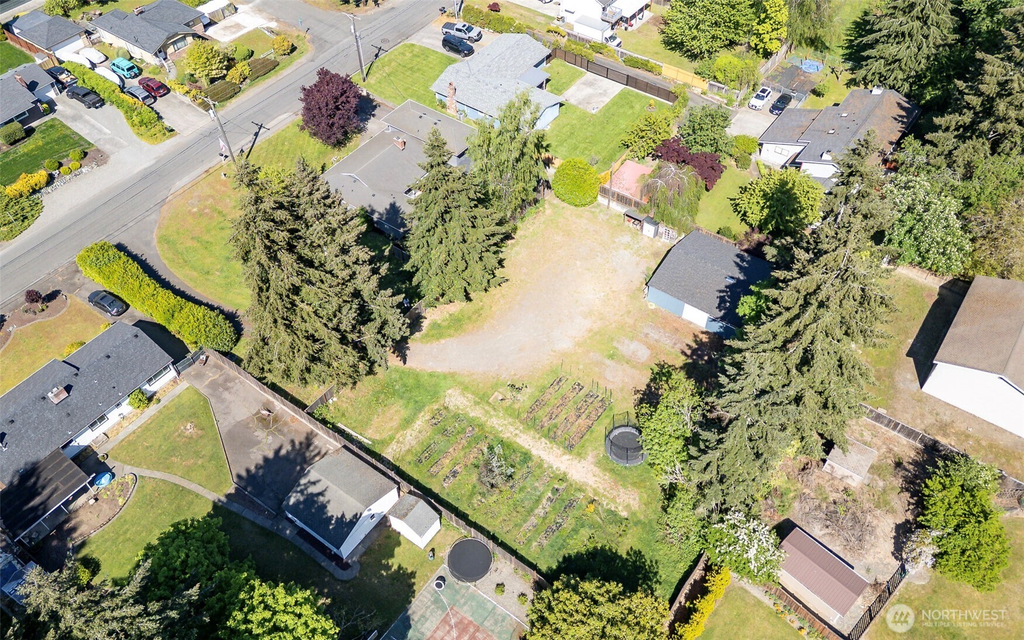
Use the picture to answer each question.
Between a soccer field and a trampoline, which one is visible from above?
trampoline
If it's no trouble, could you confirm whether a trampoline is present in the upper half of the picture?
No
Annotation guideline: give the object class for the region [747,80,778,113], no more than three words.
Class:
car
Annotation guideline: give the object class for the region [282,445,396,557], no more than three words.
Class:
building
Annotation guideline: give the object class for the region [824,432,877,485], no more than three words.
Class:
shed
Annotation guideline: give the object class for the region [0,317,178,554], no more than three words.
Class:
house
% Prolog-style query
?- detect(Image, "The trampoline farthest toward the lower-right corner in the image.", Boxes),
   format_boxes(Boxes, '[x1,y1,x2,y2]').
[601,414,651,472]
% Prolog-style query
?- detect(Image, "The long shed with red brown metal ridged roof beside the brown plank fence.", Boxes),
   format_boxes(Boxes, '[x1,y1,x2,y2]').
[778,535,868,621]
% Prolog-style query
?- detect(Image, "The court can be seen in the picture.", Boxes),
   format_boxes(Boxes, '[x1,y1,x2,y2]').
[381,566,534,640]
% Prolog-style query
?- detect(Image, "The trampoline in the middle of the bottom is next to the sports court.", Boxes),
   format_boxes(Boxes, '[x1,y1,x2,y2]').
[444,534,496,588]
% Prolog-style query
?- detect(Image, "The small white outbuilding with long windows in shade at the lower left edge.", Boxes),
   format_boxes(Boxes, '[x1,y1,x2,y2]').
[2,560,61,612]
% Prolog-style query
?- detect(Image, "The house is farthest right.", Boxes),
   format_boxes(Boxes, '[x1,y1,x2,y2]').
[922,277,1024,432]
